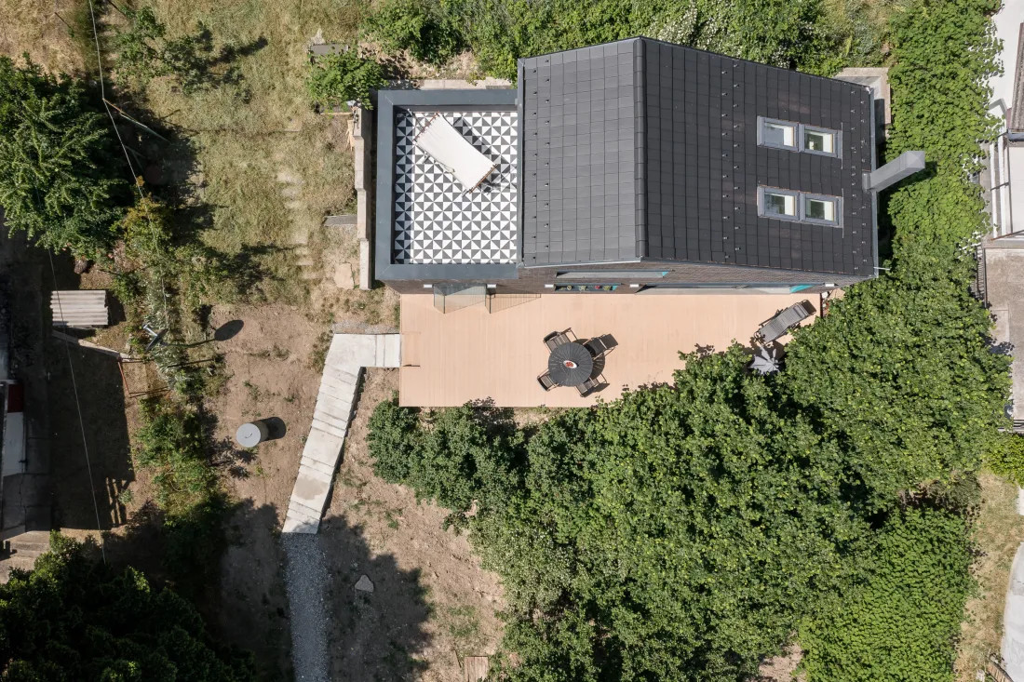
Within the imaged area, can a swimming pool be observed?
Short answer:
No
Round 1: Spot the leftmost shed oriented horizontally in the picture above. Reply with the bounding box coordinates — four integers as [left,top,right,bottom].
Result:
[50,290,136,330]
